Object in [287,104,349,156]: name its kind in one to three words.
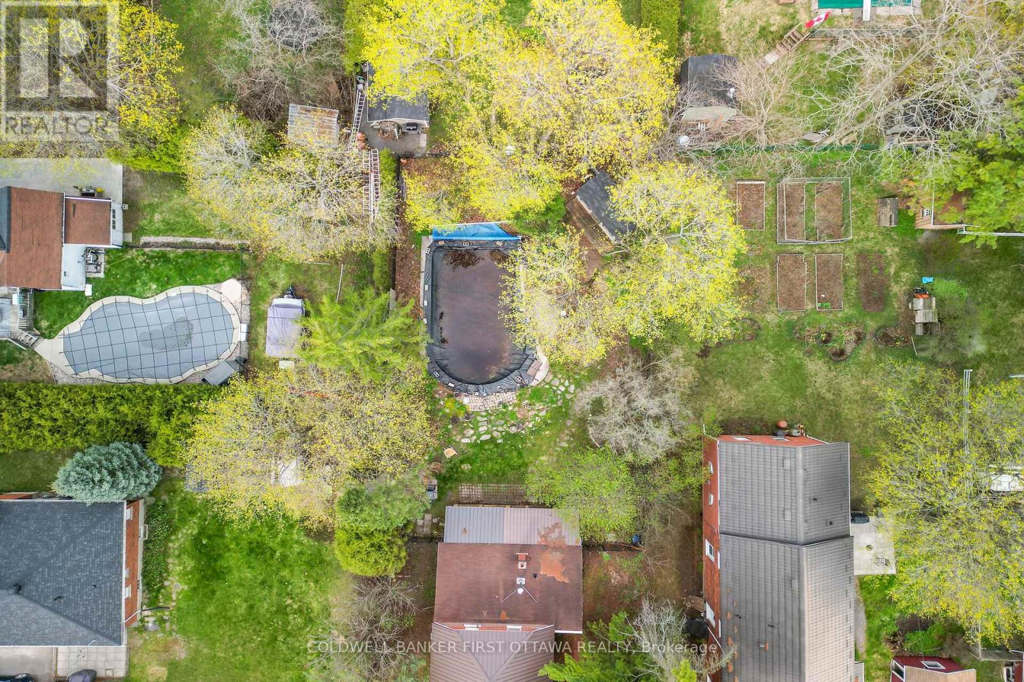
shed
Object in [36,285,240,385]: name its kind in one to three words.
swimming pool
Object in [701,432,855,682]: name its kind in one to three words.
house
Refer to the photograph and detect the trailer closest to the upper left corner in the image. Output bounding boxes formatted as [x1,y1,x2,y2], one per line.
[265,285,306,355]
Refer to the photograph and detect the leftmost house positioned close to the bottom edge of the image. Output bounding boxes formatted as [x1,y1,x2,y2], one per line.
[0,490,153,648]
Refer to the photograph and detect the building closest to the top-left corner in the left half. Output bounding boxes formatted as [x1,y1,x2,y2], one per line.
[0,187,127,291]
